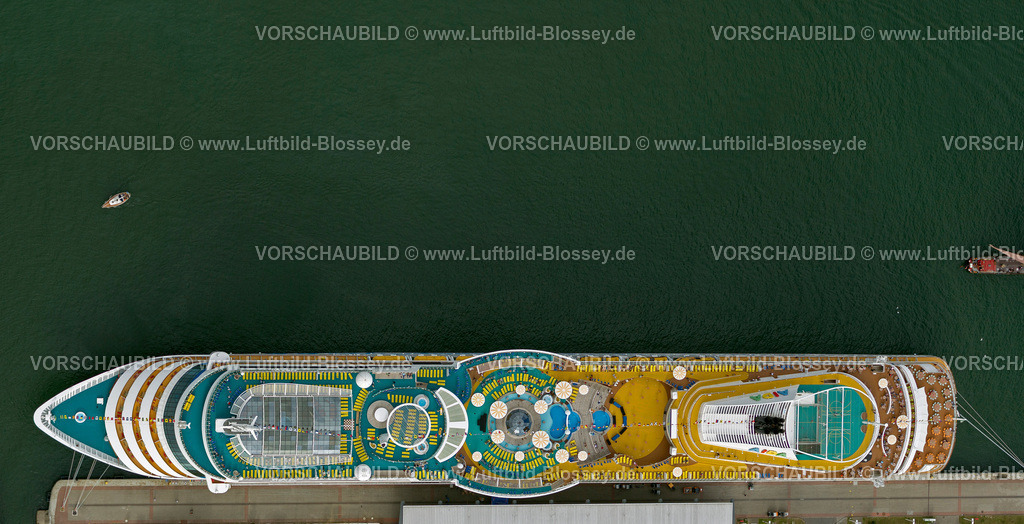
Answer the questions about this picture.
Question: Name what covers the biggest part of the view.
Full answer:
For the most part, this view shows water.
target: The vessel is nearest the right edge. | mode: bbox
[962,243,1024,275]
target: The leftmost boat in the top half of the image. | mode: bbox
[102,192,131,208]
